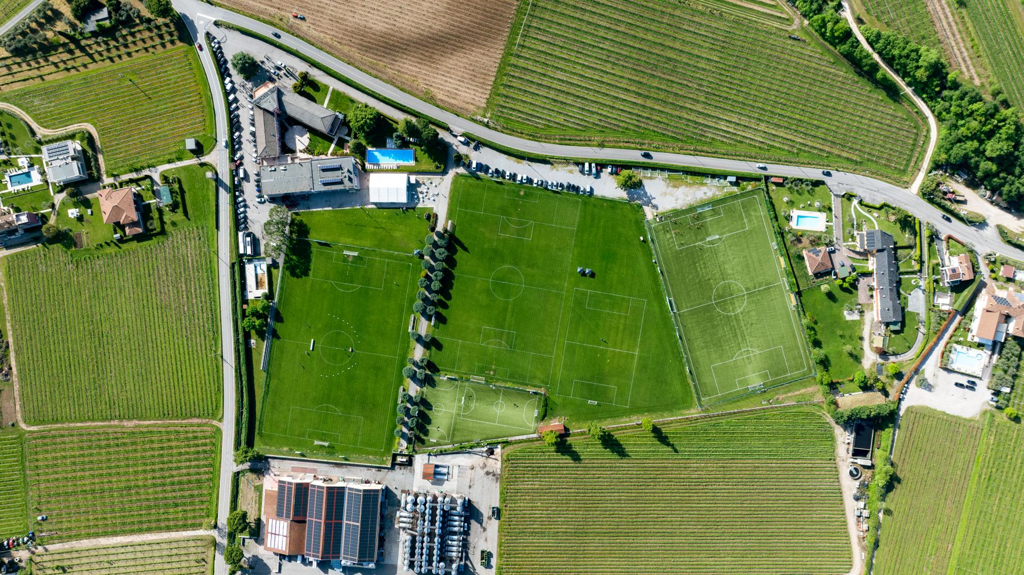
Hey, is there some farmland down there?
Yes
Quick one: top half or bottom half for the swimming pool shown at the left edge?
top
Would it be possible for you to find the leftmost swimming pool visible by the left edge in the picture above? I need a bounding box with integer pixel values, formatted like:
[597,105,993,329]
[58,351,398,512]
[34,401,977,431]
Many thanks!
[5,166,43,189]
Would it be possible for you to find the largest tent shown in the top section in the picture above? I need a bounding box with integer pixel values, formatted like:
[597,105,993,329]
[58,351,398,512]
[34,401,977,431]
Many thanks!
[370,173,408,203]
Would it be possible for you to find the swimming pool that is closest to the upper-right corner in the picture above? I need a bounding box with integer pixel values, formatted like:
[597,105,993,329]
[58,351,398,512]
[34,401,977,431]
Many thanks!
[790,209,827,232]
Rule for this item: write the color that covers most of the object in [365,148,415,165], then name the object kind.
blue swimming pool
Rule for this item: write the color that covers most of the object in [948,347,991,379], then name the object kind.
white swimming pool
